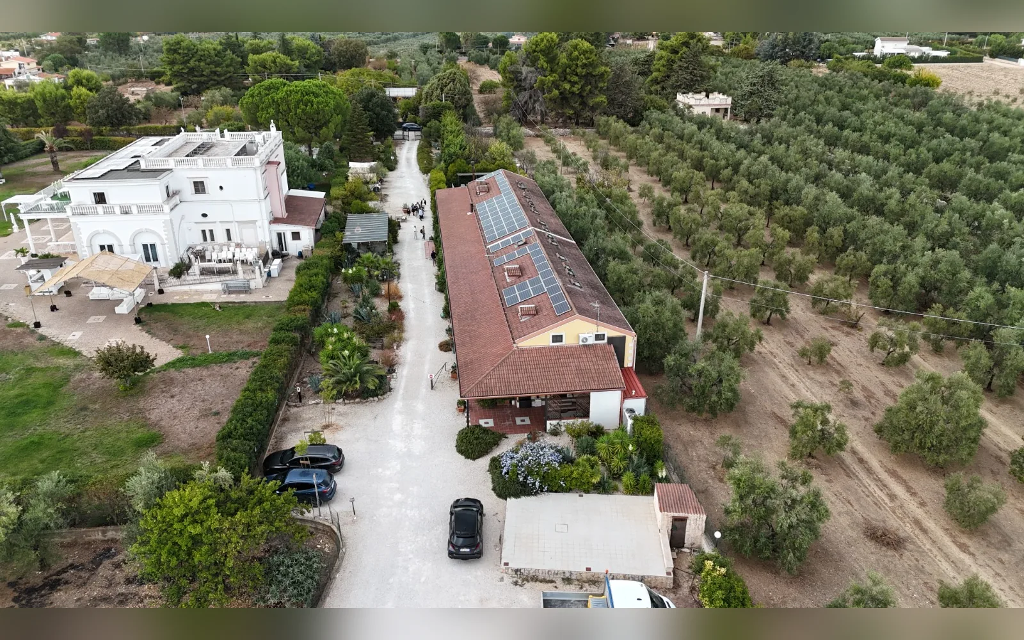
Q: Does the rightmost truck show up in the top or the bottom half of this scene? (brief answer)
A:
bottom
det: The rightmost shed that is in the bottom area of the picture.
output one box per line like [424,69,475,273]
[651,478,710,551]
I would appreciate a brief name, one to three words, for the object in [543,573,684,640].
truck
